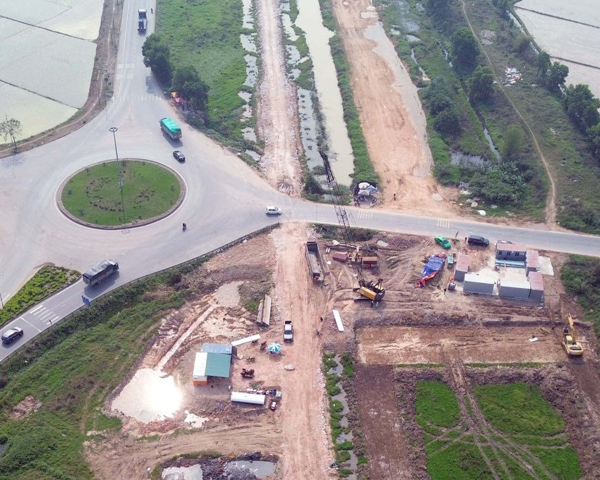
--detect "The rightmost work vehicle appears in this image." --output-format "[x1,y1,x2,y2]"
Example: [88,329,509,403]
[559,312,586,362]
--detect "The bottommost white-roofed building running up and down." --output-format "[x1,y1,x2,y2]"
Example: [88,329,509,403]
[193,353,209,384]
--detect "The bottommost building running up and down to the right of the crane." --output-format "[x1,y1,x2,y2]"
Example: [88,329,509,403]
[531,273,546,303]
